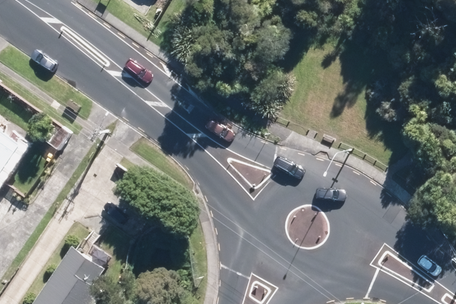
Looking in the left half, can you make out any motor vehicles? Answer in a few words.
Yes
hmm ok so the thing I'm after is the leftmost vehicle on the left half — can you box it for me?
[32,48,60,74]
